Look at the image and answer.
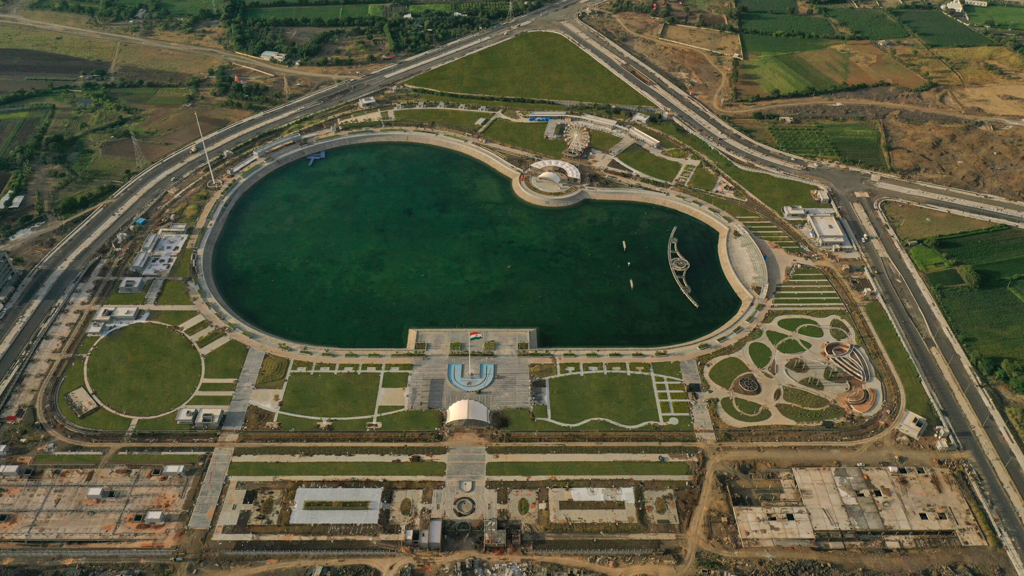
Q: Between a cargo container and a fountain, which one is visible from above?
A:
fountain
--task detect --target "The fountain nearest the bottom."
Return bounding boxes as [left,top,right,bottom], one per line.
[453,497,476,515]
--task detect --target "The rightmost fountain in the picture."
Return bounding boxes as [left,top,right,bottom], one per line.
[667,225,700,307]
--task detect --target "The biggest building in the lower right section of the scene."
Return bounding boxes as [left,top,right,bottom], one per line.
[727,467,989,551]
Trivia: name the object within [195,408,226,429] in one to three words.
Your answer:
building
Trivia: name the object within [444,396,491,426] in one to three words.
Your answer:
tent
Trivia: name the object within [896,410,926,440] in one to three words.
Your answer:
building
